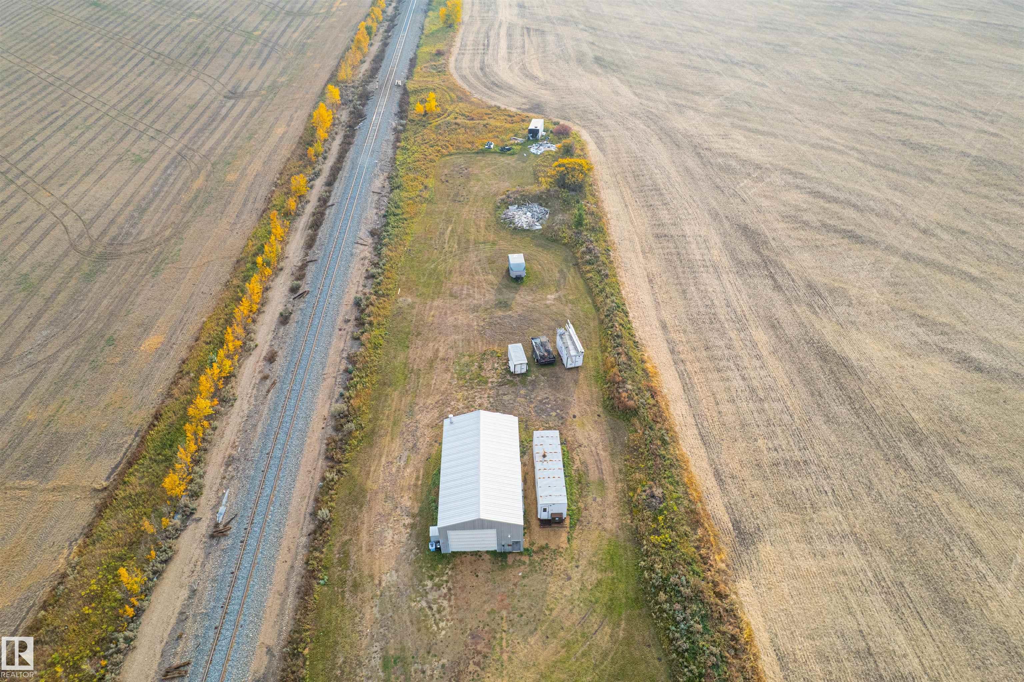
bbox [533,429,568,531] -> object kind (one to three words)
trailer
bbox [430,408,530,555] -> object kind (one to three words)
shed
